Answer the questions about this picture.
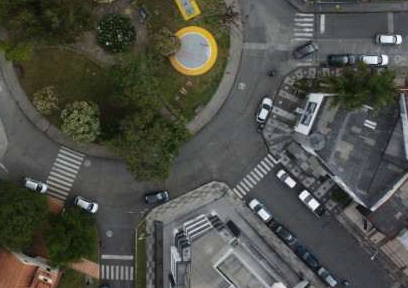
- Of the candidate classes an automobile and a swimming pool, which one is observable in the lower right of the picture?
automobile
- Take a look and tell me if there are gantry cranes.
No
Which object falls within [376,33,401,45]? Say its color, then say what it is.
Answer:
white vehicle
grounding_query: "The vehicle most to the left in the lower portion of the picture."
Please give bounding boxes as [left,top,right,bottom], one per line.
[24,177,49,193]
